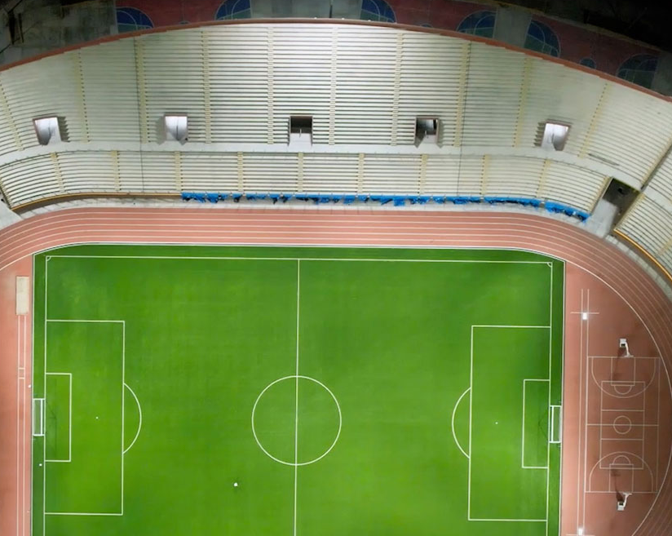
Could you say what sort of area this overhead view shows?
sports ground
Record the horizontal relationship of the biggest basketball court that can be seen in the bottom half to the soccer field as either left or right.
on the right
